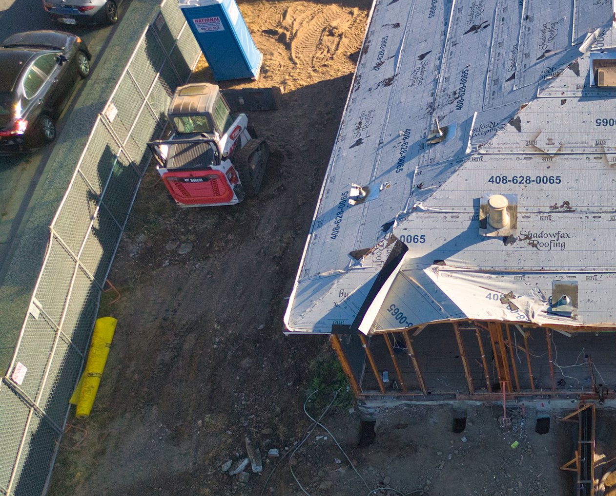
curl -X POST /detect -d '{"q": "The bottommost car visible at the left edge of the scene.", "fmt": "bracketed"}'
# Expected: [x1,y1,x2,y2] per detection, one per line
[0,30,91,149]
